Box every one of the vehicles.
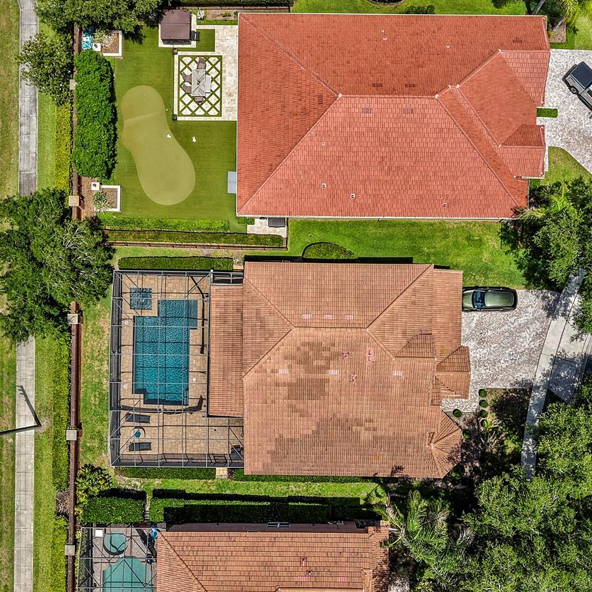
[462,284,520,314]
[567,62,592,107]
